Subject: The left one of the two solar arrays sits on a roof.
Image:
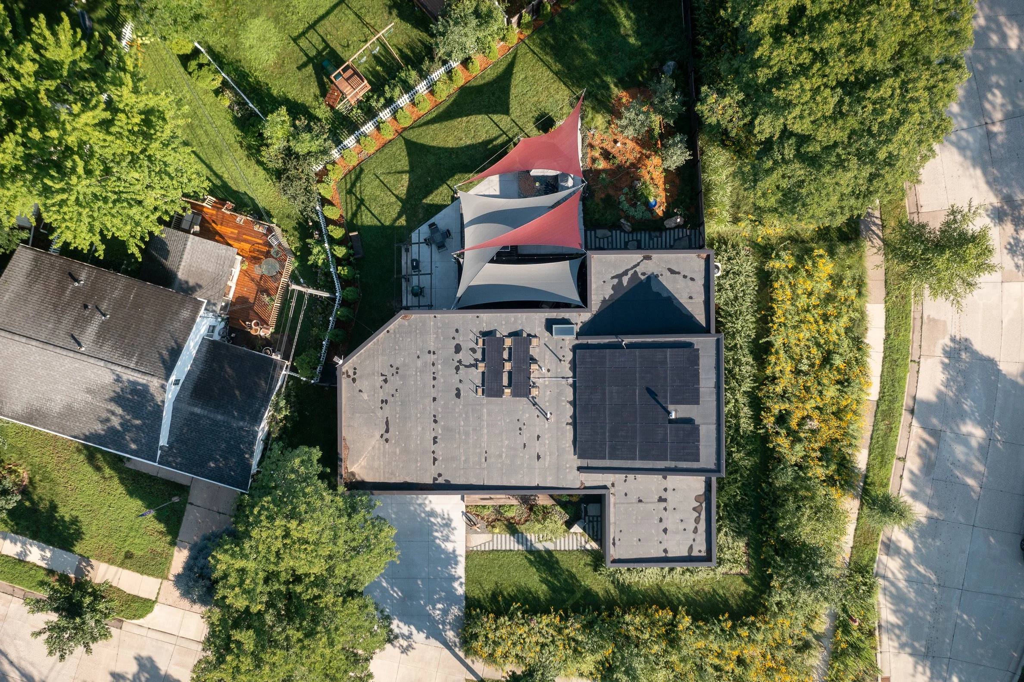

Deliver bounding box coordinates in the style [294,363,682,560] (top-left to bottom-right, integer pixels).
[477,337,539,397]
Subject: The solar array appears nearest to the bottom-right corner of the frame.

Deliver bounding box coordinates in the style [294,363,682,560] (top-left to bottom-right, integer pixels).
[576,350,698,463]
